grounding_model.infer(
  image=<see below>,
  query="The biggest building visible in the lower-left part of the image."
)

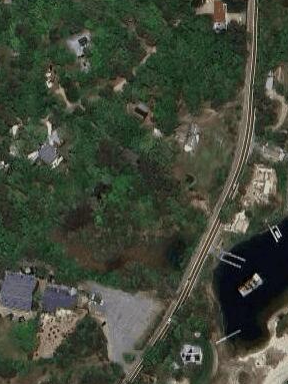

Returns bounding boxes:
[3,273,39,308]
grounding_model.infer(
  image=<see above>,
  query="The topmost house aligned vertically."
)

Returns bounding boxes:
[215,0,228,32]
